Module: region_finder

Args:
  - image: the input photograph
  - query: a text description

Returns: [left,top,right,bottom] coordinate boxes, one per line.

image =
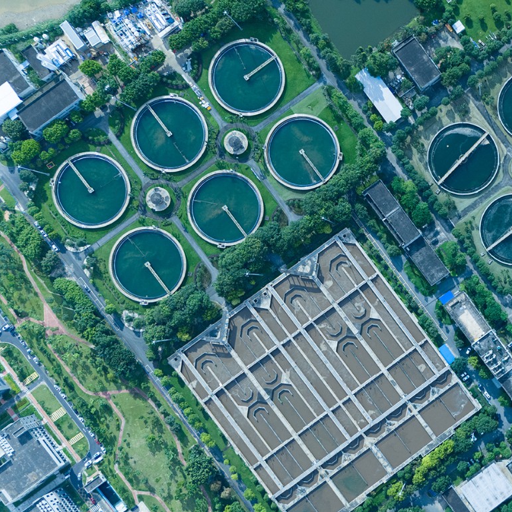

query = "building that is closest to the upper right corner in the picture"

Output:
[392,35,442,93]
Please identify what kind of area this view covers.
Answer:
industrial area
